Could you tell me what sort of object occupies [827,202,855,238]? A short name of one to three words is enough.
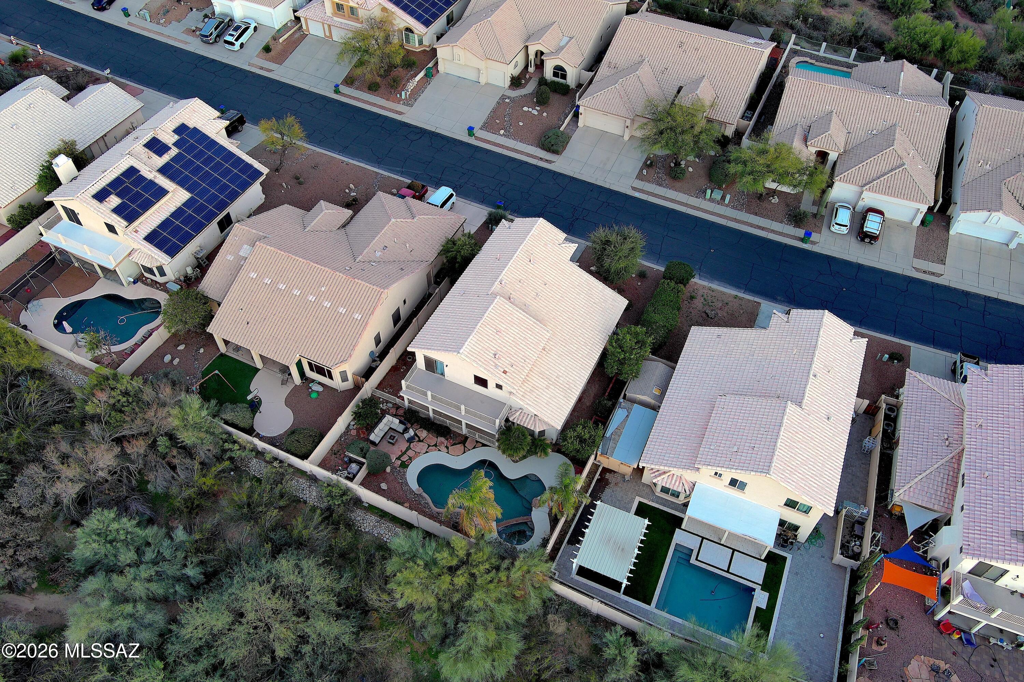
car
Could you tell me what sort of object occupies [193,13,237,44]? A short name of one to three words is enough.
car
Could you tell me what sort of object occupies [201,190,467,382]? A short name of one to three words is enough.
house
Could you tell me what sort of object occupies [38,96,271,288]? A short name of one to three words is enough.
house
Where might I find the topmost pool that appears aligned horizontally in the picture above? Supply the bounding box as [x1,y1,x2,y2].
[795,59,853,76]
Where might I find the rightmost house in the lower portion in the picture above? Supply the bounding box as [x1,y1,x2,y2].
[890,364,1024,648]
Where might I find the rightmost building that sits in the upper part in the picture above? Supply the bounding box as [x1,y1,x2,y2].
[951,90,1024,252]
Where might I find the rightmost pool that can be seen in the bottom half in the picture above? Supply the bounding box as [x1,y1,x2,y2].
[656,544,757,643]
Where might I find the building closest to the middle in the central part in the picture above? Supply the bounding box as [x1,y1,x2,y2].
[399,213,630,452]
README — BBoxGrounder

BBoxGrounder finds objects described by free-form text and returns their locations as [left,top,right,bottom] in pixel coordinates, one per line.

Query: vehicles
[219,20,261,49]
[83,0,125,14]
[952,340,982,385]
[219,100,254,139]
[827,202,855,238]
[425,179,461,211]
[394,172,434,201]
[193,13,237,44]
[855,208,887,249]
